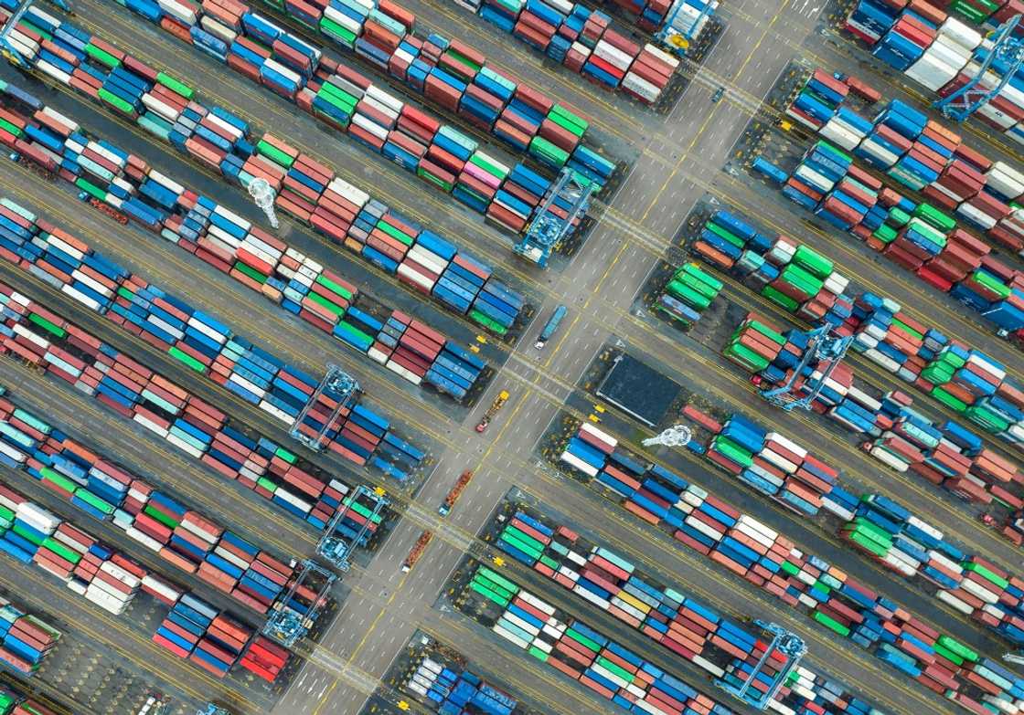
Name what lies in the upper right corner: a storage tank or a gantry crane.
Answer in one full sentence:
You can see a gantry crane in the upper right corner.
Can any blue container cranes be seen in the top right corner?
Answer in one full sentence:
Yes, in the top right corner there is a blue container crane.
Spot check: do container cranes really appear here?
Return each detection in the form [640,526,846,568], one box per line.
[184,695,229,715]
[0,0,77,75]
[510,163,596,273]
[754,316,858,416]
[933,14,1024,129]
[258,556,345,654]
[650,0,725,63]
[708,615,811,715]
[286,362,369,458]
[312,481,395,574]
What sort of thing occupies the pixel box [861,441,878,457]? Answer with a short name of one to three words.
vehicle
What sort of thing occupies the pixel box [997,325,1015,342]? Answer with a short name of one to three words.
vehicle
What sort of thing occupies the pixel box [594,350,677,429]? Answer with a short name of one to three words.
shed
